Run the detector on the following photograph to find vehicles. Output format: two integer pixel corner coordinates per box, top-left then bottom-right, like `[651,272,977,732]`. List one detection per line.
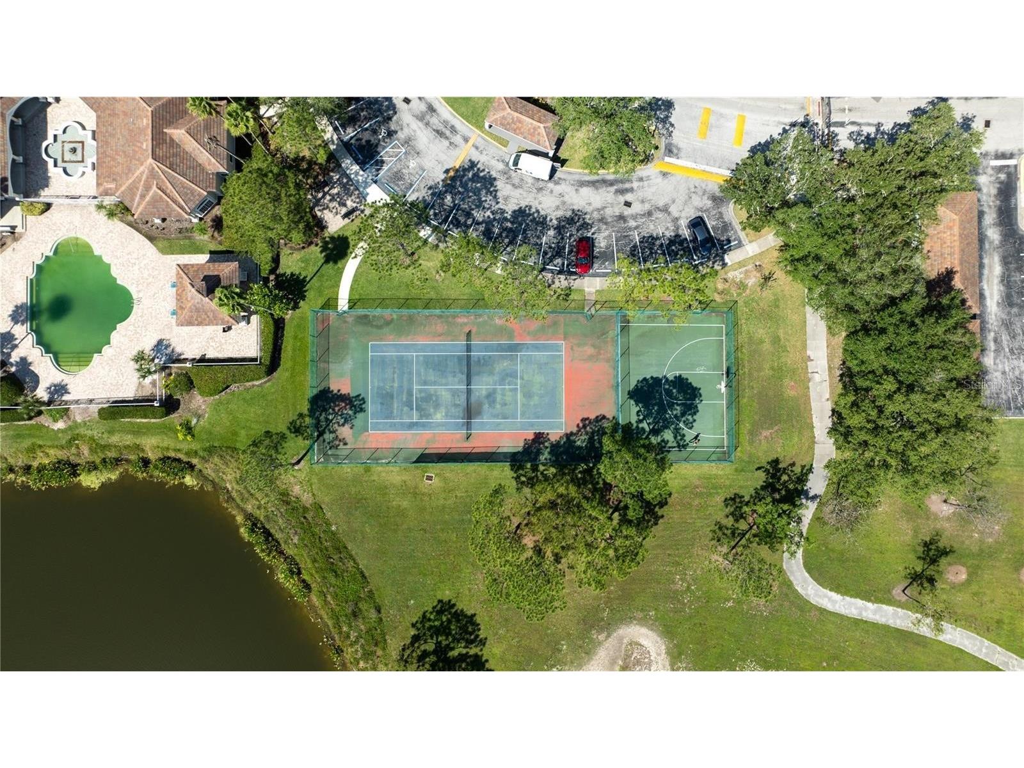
[575,237,593,275]
[689,214,715,257]
[508,153,562,182]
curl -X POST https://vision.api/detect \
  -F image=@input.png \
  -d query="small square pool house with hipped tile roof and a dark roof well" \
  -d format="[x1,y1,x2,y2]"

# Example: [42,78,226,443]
[175,263,247,327]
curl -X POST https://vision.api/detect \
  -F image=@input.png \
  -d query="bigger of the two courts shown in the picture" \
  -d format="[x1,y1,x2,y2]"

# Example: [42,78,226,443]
[317,314,618,462]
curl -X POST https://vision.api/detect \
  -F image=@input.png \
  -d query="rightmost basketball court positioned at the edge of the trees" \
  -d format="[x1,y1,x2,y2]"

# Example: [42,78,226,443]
[618,314,728,462]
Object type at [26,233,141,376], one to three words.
swimming pool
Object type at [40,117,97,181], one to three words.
fountain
